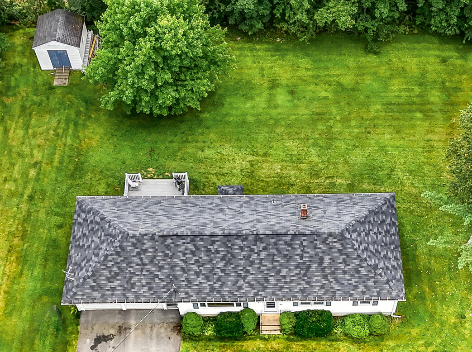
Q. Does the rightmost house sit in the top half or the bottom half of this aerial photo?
bottom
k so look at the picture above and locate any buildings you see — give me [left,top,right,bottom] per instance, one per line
[33,6,88,69]
[60,186,407,316]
